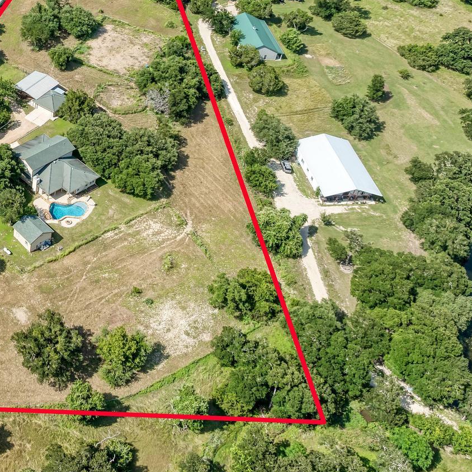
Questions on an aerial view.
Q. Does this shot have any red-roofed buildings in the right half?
No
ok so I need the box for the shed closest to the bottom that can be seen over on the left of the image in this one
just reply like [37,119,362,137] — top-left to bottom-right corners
[13,215,54,251]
